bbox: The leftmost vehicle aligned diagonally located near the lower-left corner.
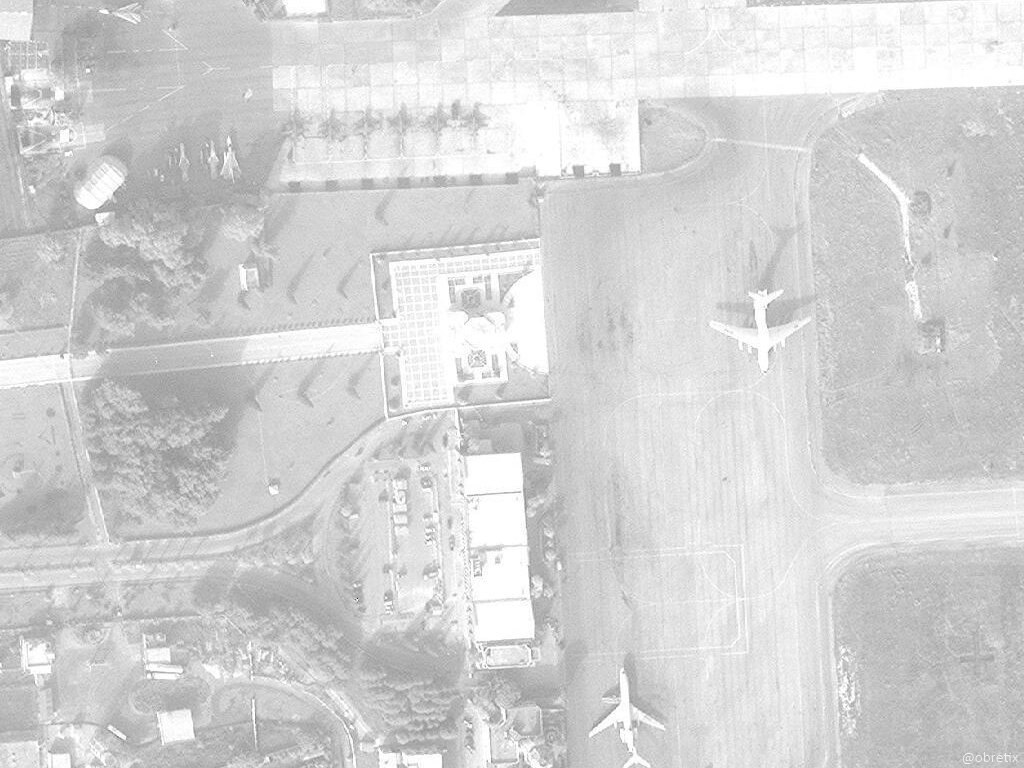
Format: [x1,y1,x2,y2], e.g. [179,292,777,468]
[108,723,126,740]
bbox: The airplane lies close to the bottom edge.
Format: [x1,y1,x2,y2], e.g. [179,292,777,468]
[590,668,667,768]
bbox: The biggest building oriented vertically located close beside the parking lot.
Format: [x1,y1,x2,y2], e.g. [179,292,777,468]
[456,446,535,643]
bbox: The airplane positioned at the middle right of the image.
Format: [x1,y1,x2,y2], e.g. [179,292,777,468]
[710,288,812,372]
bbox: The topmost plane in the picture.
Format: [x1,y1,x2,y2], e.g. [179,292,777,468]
[100,3,145,25]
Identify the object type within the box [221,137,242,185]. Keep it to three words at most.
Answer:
airplane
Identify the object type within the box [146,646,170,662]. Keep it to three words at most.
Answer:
building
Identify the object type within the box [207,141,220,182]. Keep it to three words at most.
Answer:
airplane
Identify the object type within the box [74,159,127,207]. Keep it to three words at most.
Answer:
hangar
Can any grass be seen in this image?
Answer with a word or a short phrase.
Yes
